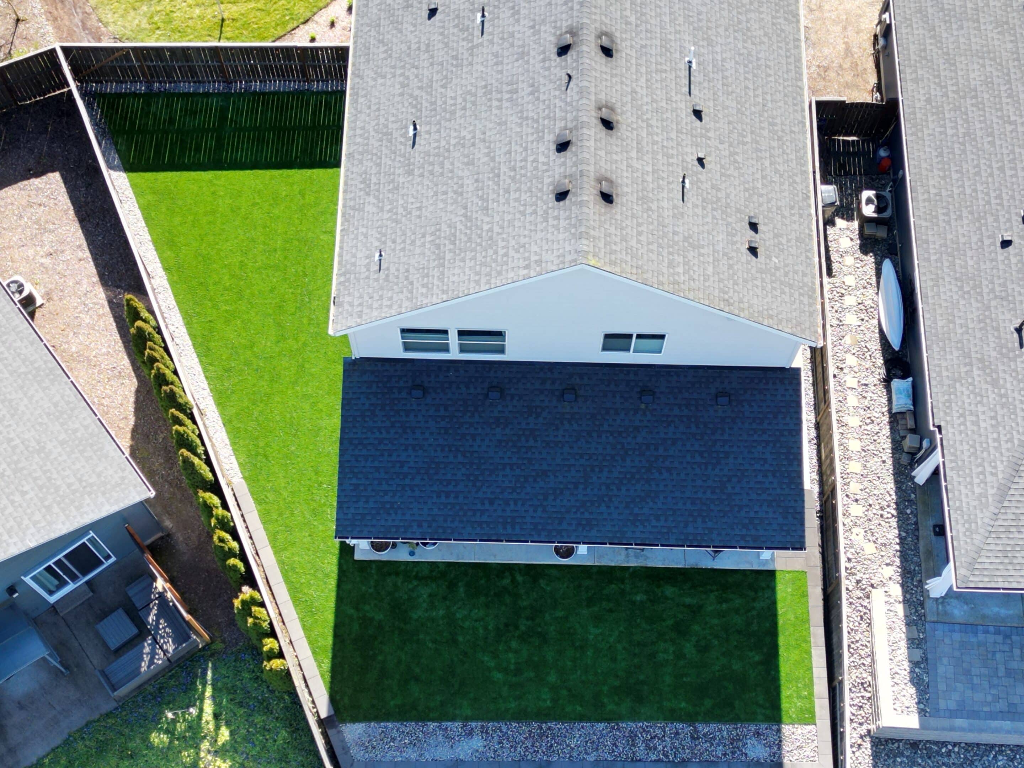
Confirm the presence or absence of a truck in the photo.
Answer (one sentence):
No, no truck can be seen from above.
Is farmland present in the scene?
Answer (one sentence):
No, the scene doesn't show any farmland.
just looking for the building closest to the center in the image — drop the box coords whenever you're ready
[329,0,823,560]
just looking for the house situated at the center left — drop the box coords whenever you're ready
[0,277,165,626]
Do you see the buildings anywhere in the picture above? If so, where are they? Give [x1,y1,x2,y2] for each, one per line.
[870,0,1024,601]
[329,0,823,560]
[0,277,165,626]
